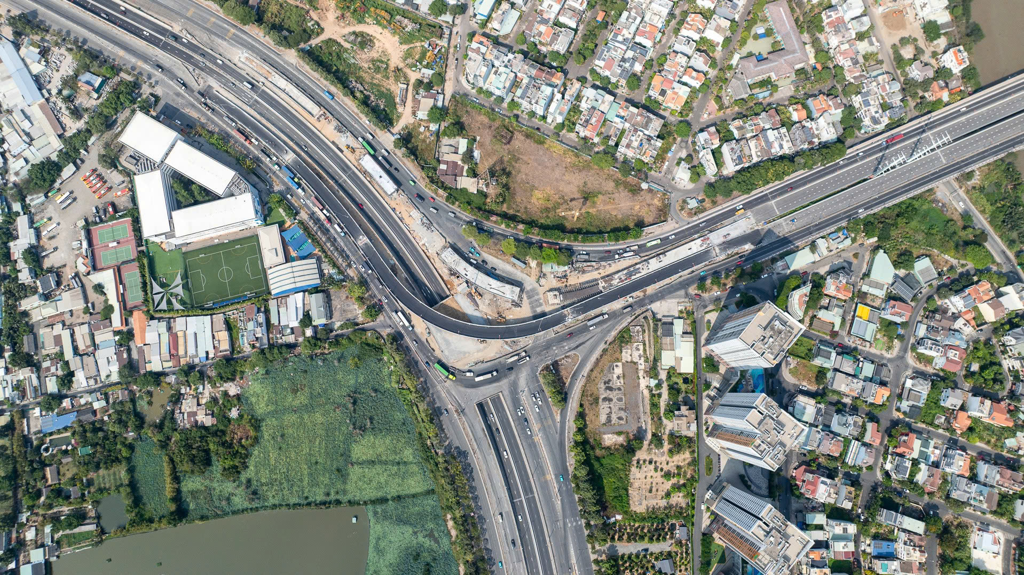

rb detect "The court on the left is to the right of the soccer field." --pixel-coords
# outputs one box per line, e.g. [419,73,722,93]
[283,224,319,262]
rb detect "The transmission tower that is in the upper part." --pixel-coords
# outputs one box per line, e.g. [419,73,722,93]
[471,172,492,196]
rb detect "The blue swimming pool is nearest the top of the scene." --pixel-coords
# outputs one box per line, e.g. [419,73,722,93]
[730,368,768,394]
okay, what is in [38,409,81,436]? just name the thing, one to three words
building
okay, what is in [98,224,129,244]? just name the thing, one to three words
tennis court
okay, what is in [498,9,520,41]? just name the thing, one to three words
house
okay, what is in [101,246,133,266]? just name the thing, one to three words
tennis court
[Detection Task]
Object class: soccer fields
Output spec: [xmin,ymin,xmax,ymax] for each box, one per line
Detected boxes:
[182,237,269,310]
